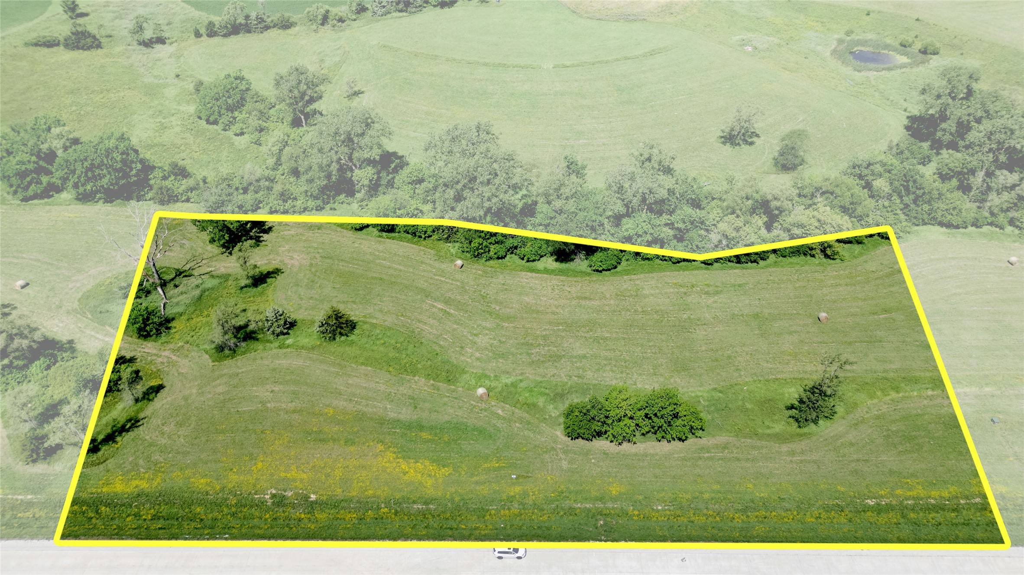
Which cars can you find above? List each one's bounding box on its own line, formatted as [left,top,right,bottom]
[492,541,527,559]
